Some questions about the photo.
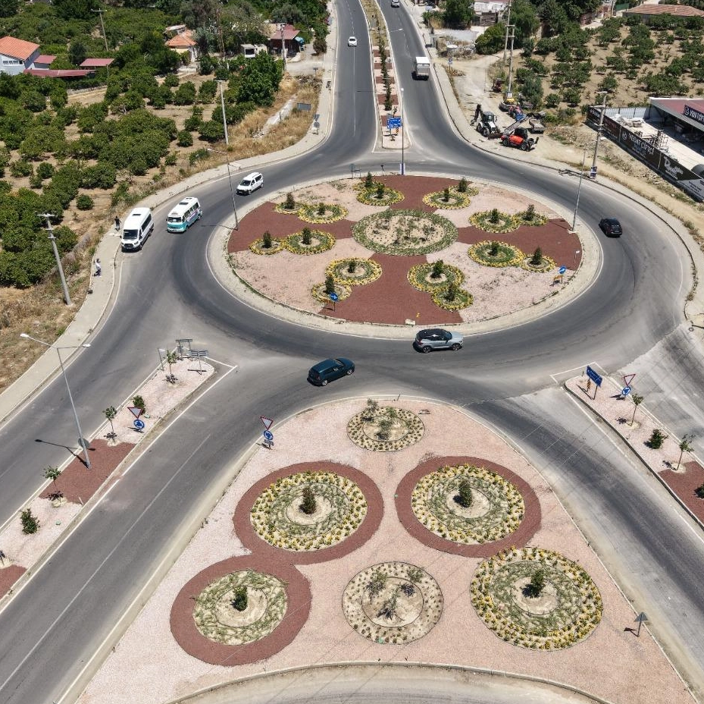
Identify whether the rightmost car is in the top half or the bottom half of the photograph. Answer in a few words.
top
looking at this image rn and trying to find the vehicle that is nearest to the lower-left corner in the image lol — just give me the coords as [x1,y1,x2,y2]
[305,358,358,390]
